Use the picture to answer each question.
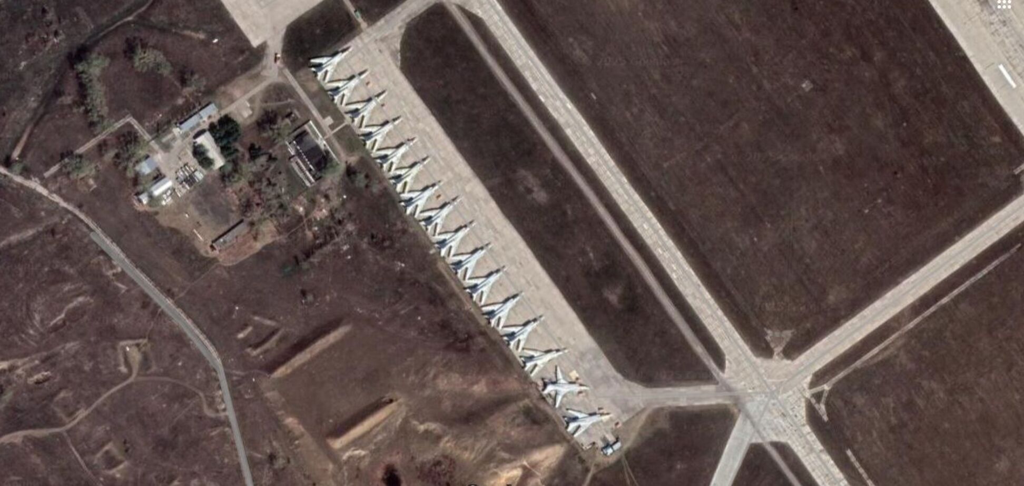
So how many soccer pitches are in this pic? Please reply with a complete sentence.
There are no soccer pitches in the image.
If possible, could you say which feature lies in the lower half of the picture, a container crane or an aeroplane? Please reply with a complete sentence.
There is an aeroplane in the lower half of the picture.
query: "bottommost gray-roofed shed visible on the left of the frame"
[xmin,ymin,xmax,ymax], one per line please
[213,221,249,250]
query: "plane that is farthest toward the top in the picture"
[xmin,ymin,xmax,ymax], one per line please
[308,48,349,82]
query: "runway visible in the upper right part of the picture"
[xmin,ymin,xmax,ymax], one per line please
[929,0,1024,135]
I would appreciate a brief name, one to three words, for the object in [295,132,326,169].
building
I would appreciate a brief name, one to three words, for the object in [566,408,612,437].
airplane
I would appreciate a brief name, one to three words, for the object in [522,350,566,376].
airplane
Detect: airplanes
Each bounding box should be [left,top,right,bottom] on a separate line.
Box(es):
[543,368,587,409]
[501,317,543,351]
[421,197,461,232]
[450,245,491,279]
[465,268,507,303]
[308,48,349,82]
[566,408,612,437]
[345,91,386,125]
[482,294,522,328]
[388,158,429,192]
[359,118,401,151]
[434,222,476,257]
[522,350,566,376]
[399,181,441,216]
[327,70,367,104]
[375,138,416,172]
